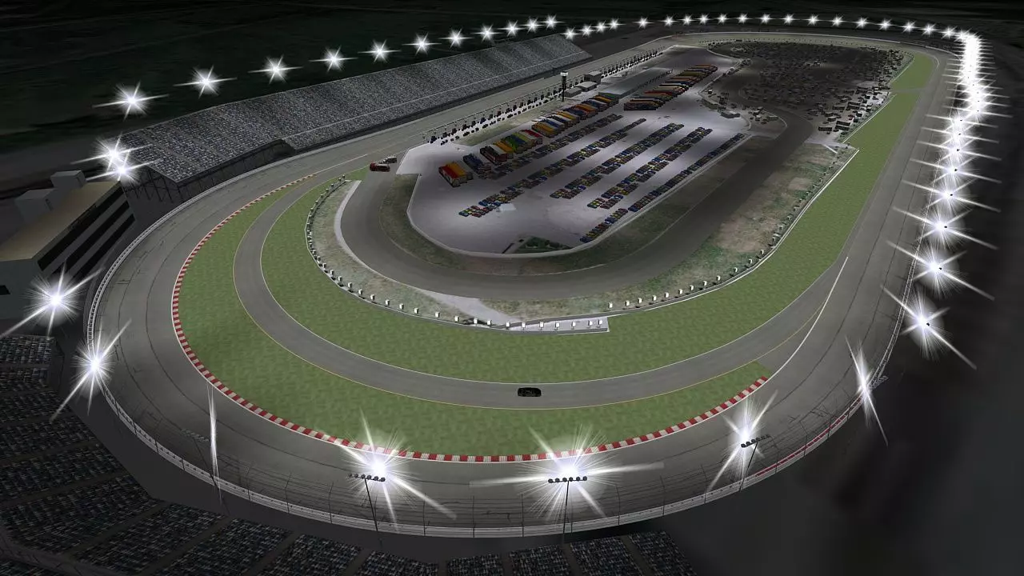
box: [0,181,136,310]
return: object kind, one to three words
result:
building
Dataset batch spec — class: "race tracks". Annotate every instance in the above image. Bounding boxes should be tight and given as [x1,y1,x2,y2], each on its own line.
[89,33,958,524]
